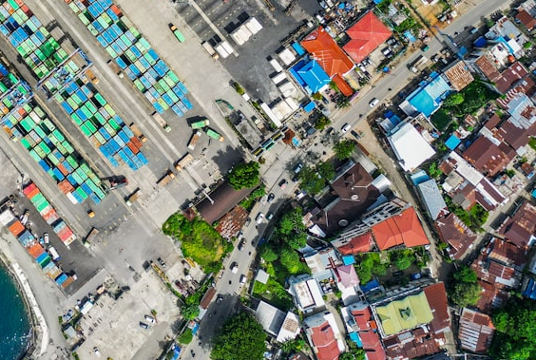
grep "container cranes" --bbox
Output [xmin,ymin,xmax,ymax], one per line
[0,75,33,124]
[34,44,91,100]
